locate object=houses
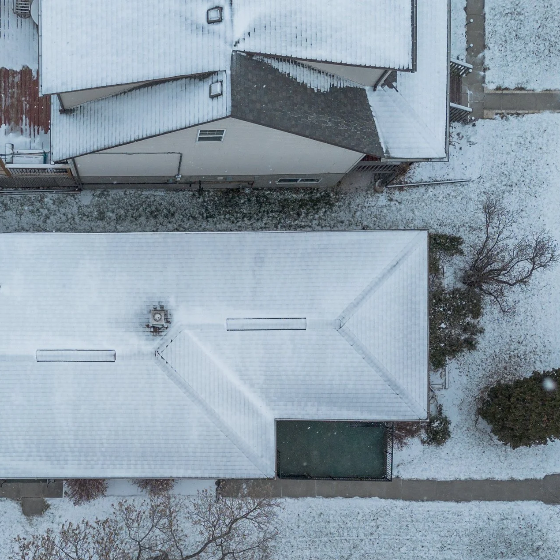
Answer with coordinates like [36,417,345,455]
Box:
[38,0,474,192]
[0,233,428,485]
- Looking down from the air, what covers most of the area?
buildings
